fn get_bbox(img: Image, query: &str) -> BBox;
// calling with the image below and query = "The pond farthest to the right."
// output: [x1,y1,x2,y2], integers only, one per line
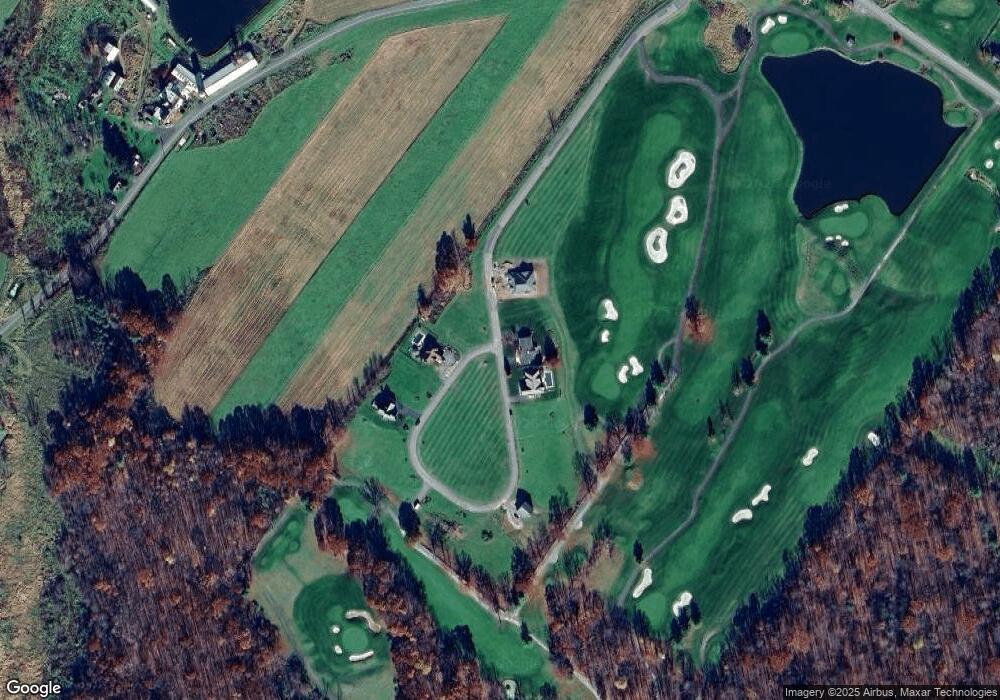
[761,50,967,219]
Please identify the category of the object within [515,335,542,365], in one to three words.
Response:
house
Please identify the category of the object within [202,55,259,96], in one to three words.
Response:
barn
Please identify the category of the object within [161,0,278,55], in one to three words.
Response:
pond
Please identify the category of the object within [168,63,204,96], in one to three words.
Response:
barn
